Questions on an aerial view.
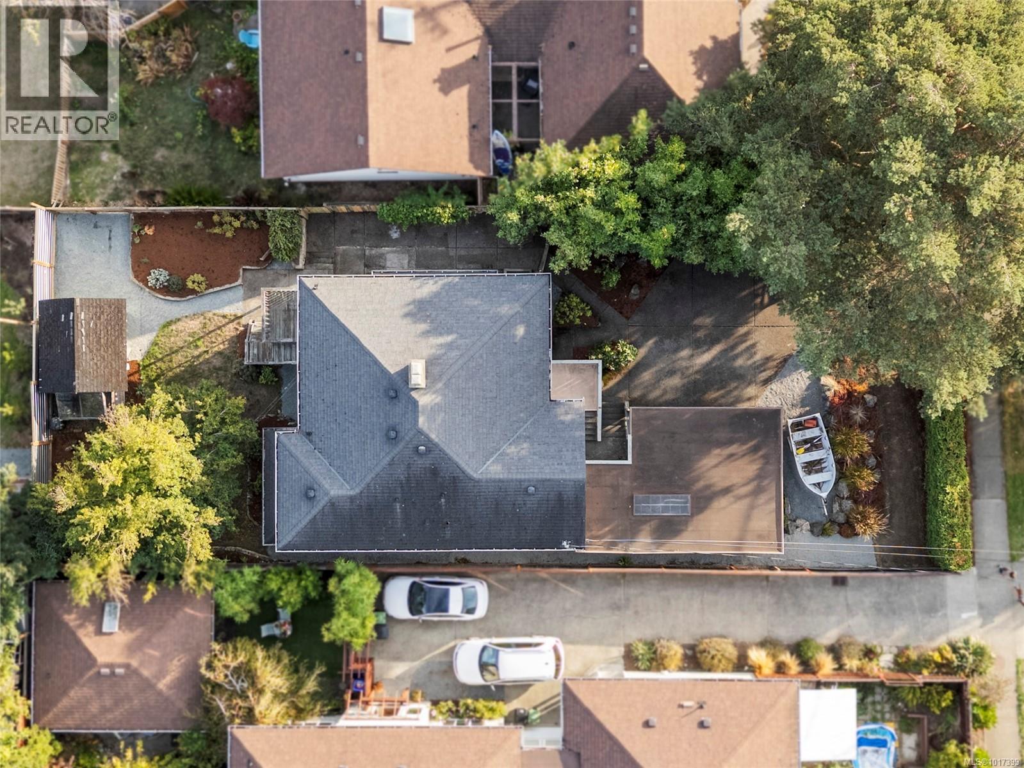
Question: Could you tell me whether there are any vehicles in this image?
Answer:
Yes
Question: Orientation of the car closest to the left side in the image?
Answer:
horizontally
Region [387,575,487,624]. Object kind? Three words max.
car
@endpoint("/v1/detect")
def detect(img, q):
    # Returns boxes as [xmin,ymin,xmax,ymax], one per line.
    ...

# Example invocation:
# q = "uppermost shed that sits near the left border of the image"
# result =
[37,297,131,392]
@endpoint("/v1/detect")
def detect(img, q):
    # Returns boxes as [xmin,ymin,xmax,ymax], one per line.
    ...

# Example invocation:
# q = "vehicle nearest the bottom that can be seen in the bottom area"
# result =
[459,635,560,689]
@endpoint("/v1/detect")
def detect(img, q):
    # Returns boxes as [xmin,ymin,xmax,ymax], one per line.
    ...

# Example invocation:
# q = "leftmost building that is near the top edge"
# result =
[257,0,495,182]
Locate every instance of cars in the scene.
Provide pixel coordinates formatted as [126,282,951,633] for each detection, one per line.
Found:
[387,575,487,624]
[459,635,560,689]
